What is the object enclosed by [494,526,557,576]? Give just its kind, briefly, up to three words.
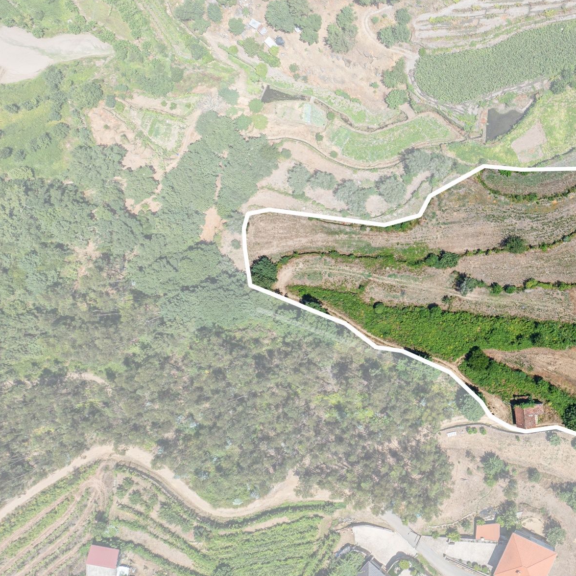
house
